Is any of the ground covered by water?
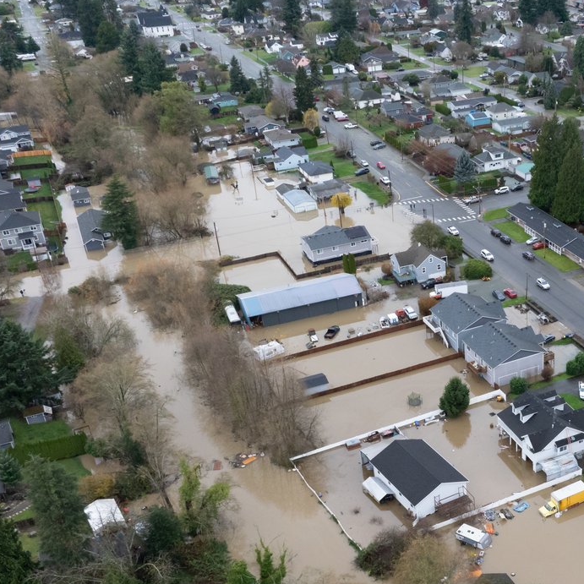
Yes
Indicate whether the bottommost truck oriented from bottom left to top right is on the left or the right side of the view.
right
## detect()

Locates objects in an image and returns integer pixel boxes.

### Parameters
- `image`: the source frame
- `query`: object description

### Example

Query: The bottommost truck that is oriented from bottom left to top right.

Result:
[538,476,584,519]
